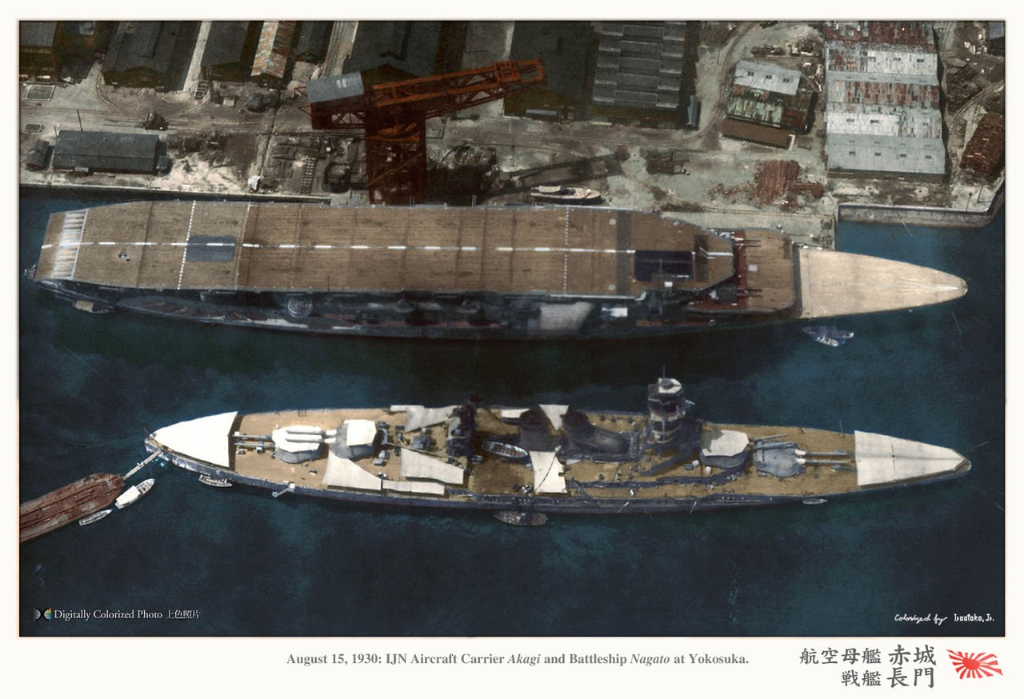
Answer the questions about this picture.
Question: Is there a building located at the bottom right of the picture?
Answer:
No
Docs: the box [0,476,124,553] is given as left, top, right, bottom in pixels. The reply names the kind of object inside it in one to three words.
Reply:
ship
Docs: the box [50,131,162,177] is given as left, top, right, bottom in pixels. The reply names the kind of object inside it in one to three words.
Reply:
building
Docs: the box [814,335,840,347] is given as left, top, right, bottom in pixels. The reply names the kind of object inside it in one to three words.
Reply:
boat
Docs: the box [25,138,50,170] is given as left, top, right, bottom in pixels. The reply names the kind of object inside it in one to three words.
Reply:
shed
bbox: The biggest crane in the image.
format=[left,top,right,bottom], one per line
[296,59,554,204]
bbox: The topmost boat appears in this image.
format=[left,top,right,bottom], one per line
[531,186,602,202]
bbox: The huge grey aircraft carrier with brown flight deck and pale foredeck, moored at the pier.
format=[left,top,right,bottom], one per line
[33,185,973,342]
